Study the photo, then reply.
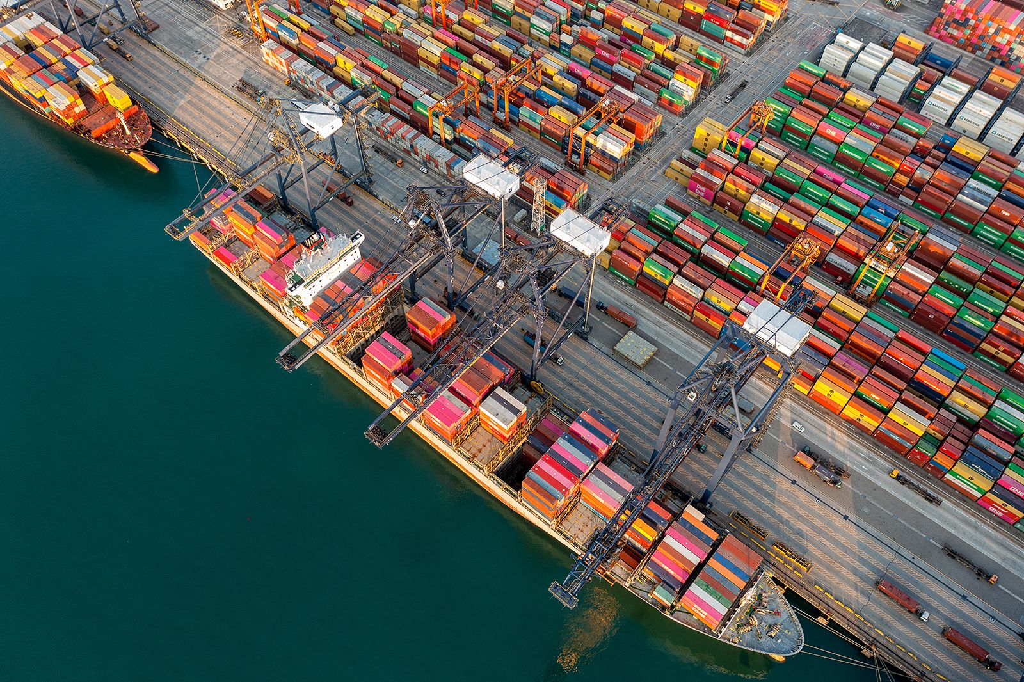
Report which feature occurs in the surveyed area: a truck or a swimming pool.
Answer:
truck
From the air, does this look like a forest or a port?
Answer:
port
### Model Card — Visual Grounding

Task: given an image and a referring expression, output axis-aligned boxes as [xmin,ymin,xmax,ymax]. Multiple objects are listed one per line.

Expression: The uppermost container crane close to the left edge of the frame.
[39,0,138,54]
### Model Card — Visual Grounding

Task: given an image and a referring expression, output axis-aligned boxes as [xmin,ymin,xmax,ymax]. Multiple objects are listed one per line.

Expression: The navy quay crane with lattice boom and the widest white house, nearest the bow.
[538,286,819,620]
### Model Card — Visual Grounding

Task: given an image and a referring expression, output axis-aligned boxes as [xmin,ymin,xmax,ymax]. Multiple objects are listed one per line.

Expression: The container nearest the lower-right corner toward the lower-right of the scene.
[952,629,997,664]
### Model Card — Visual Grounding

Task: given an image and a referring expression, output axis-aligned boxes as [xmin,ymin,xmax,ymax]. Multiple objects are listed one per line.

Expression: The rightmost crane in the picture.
[849,219,923,304]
